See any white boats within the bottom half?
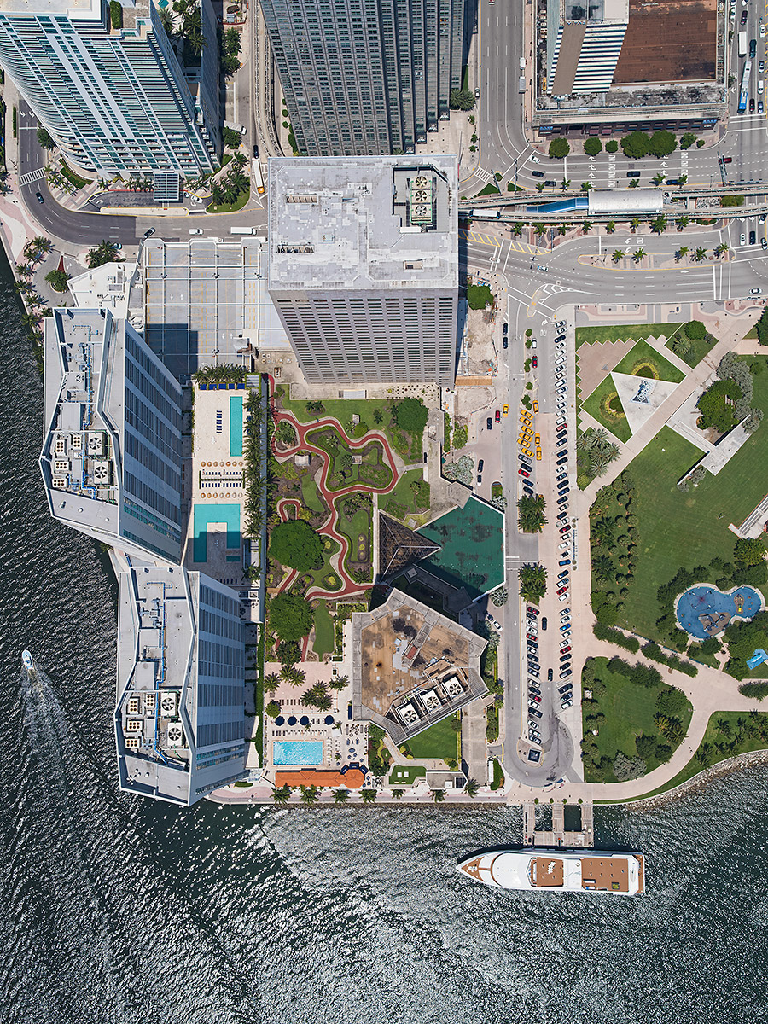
Yes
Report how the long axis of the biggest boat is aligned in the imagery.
from left to right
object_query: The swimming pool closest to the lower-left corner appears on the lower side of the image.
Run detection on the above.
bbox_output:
[274,741,322,765]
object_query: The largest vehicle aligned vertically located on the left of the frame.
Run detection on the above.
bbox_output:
[252,158,265,194]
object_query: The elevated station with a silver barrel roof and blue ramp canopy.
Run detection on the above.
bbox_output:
[512,190,683,217]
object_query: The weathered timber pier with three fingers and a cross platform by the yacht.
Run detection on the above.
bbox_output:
[523,805,595,848]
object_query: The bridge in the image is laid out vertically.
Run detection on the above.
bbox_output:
[253,0,284,159]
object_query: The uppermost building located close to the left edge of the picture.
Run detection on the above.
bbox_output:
[0,0,223,207]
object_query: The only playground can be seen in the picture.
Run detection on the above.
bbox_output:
[677,586,761,638]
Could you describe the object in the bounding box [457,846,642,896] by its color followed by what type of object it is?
white boat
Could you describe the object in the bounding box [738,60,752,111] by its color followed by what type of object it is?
white vehicle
